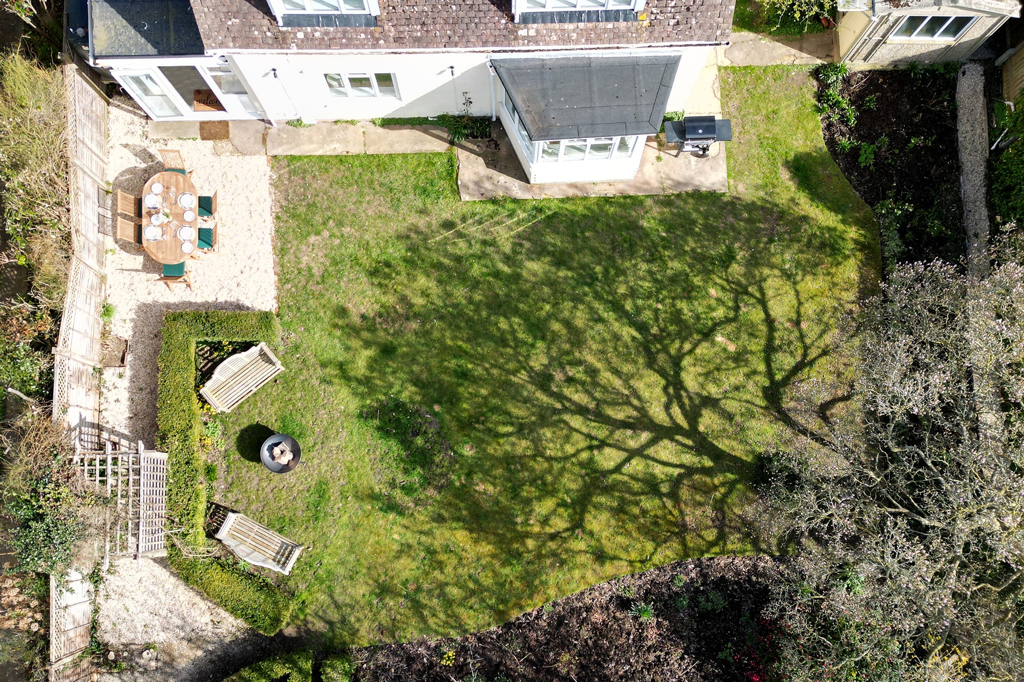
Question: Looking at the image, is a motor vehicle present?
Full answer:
No, there appears to be no motor vehicle in this shot.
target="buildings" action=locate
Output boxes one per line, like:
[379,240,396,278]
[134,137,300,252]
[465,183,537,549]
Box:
[831,0,1024,65]
[83,0,738,182]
